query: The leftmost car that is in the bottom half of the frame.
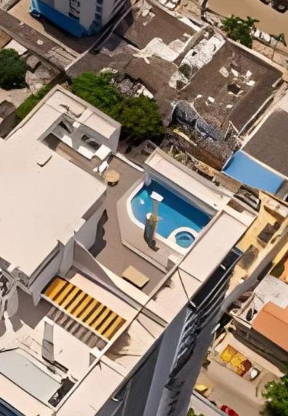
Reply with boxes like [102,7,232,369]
[192,380,210,397]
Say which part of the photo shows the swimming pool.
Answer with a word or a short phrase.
center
